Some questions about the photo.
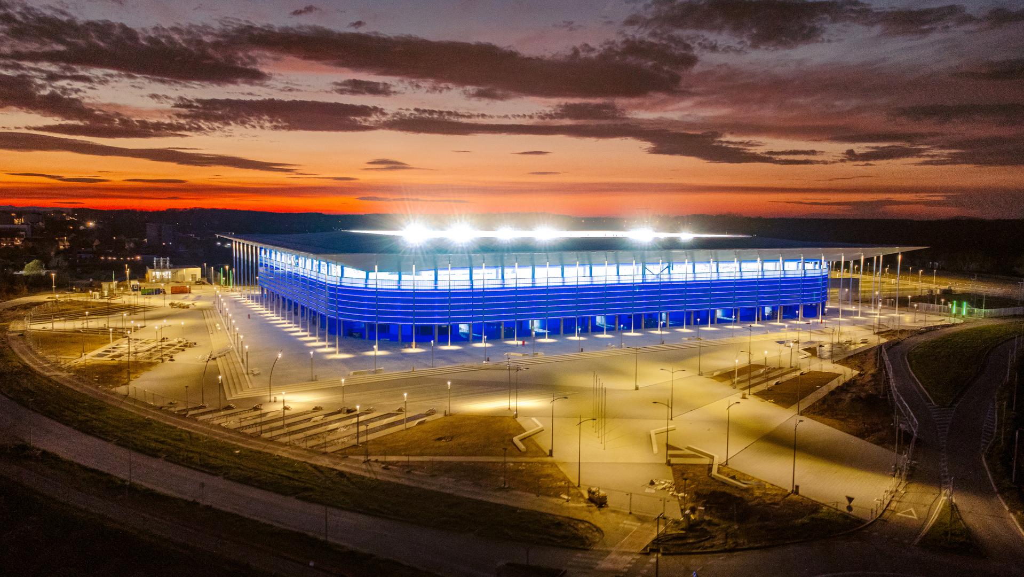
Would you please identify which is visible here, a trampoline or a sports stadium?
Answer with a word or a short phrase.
sports stadium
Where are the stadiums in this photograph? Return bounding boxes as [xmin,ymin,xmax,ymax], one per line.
[216,230,928,355]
